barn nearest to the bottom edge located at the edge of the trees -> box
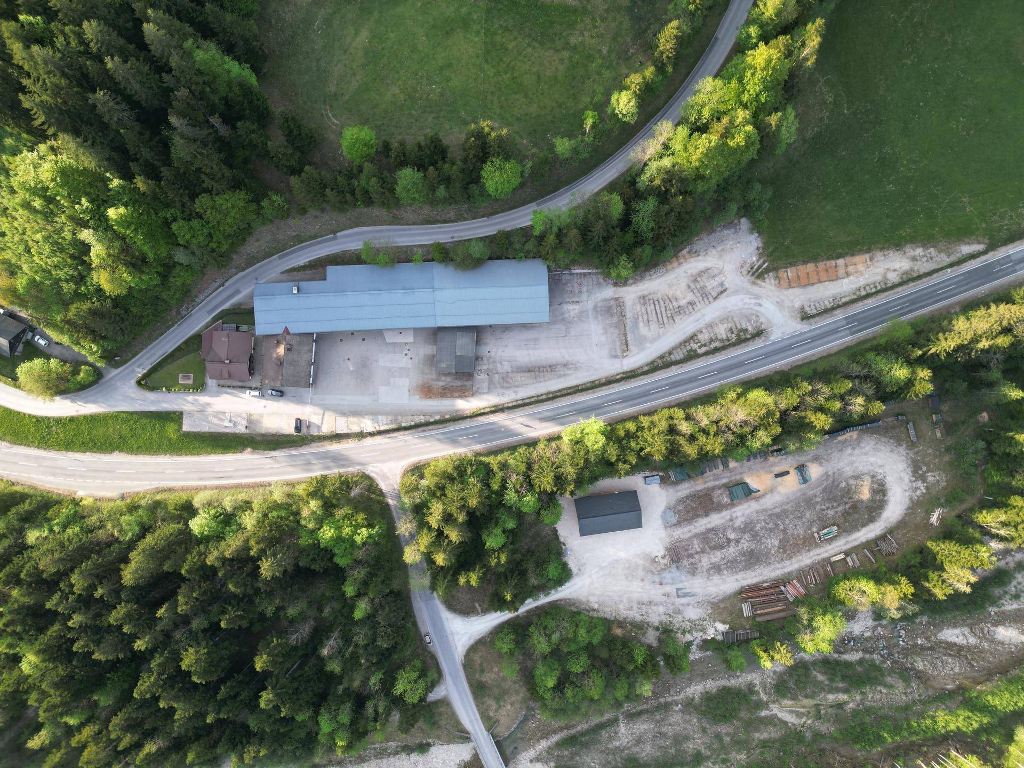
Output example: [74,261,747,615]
[574,490,642,536]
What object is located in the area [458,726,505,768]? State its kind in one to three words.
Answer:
bridge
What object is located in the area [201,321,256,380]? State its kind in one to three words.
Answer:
house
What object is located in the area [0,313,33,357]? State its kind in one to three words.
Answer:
house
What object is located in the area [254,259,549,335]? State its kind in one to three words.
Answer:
building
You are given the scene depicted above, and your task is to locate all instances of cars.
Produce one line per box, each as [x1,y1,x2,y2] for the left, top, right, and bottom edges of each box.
[293,418,301,433]
[245,390,261,396]
[268,389,282,396]
[423,632,433,646]
[33,335,48,346]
